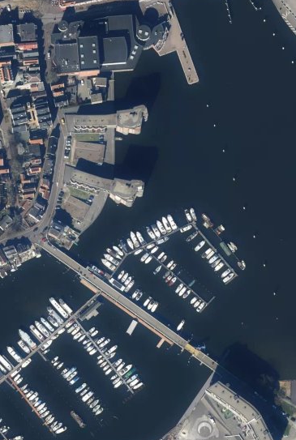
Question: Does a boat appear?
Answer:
Yes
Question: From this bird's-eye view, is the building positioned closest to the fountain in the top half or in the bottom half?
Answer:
bottom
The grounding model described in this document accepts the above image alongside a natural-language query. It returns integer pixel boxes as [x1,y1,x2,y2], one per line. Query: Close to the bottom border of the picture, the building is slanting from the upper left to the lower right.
[207,381,274,440]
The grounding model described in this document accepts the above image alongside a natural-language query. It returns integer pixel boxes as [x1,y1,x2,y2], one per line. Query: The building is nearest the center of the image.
[113,179,145,207]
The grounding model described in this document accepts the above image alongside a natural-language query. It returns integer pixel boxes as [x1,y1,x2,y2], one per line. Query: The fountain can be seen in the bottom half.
[196,421,214,438]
